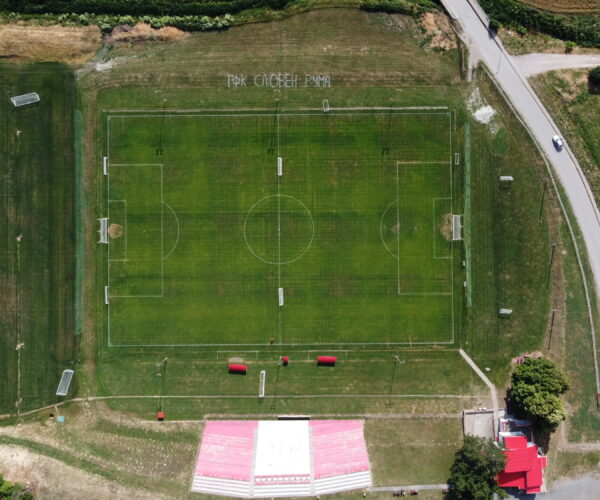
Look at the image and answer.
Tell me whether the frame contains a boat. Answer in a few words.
No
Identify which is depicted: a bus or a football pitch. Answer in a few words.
football pitch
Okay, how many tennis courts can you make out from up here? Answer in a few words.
none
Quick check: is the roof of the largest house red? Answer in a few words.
Yes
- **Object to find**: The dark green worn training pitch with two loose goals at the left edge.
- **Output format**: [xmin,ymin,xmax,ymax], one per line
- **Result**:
[0,66,76,398]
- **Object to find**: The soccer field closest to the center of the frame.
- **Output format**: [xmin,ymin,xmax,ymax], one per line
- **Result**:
[107,112,455,360]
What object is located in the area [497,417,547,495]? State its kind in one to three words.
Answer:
house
